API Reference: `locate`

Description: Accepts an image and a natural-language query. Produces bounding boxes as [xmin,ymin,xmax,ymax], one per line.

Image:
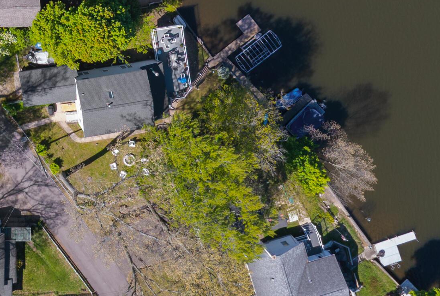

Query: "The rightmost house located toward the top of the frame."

[72,61,164,137]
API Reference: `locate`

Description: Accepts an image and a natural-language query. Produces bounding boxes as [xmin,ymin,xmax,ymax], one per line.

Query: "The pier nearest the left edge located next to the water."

[205,31,261,68]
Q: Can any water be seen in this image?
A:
Yes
